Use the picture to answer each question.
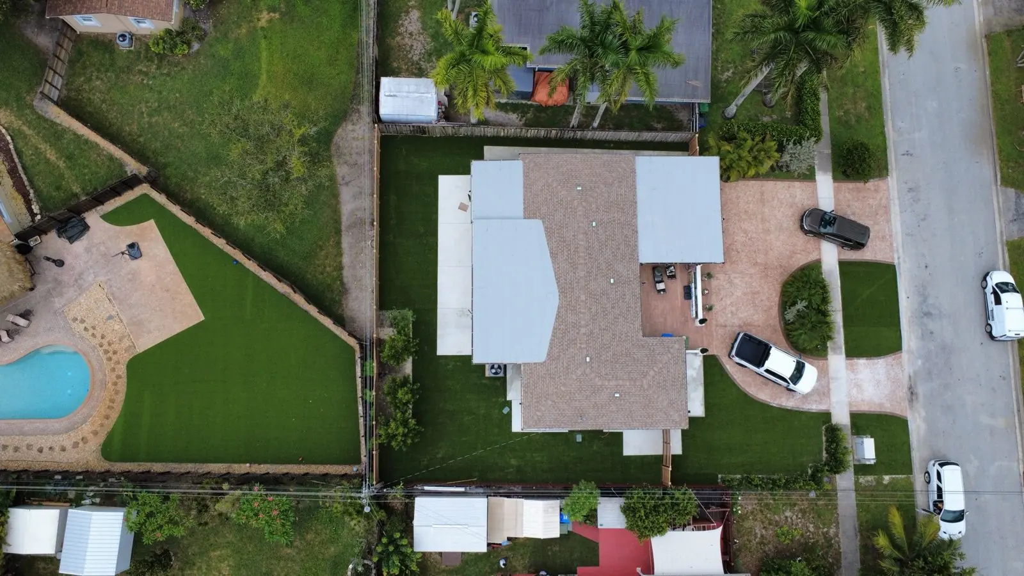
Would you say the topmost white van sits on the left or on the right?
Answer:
right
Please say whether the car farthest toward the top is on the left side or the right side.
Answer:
right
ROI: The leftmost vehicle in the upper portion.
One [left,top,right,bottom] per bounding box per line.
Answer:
[799,204,875,253]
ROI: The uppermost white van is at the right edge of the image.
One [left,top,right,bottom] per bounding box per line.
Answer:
[983,270,1024,343]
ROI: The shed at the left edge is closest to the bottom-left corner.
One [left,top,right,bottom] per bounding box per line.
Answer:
[3,504,78,554]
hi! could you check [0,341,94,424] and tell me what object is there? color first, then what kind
blue swimming pool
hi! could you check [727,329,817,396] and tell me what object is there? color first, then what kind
white truck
